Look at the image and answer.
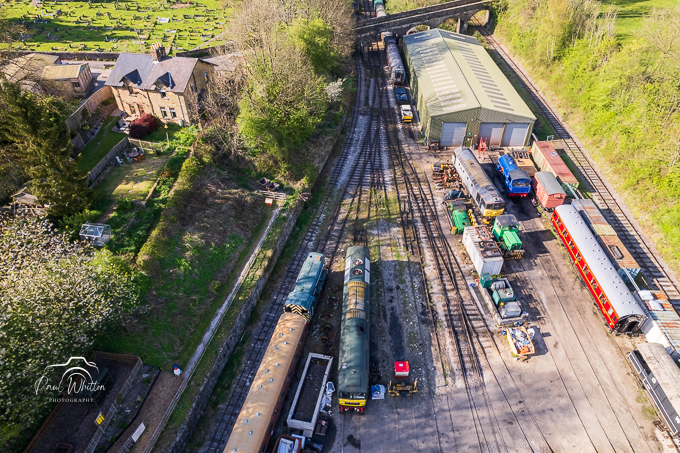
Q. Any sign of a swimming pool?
No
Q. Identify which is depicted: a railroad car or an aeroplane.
railroad car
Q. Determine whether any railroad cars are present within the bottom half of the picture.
Yes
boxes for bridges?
[339,0,517,48]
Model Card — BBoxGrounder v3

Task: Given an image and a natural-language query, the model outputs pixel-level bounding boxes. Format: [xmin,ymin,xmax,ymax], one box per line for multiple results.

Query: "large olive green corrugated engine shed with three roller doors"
[402,29,543,149]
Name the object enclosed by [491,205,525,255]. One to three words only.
rail car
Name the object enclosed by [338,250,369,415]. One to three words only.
rail car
